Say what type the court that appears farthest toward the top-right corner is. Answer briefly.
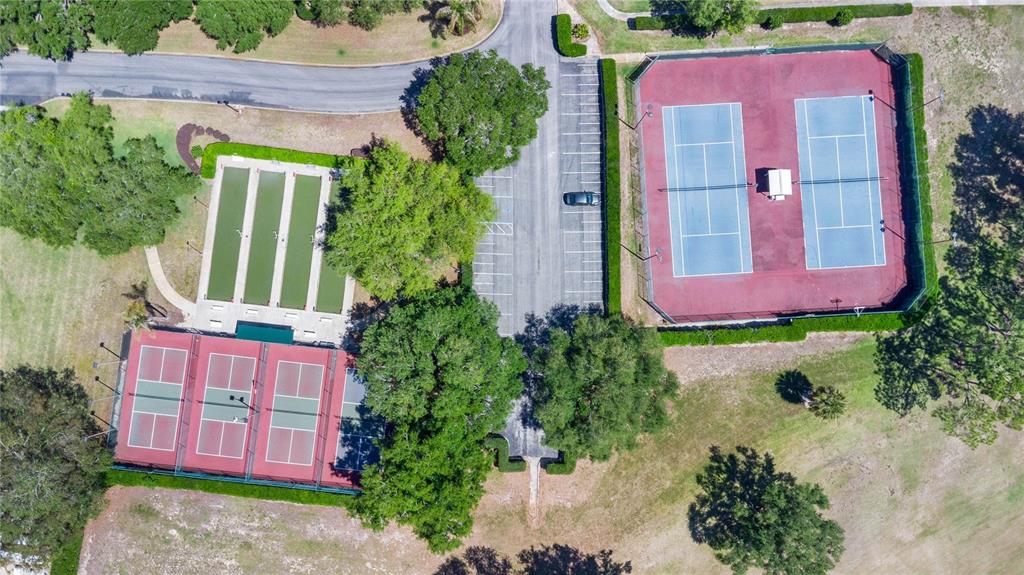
tennis court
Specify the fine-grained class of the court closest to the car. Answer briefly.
tennis court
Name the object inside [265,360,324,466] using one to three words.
sports court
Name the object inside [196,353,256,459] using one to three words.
sports court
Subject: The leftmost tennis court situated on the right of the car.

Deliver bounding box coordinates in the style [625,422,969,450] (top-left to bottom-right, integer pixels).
[662,102,752,277]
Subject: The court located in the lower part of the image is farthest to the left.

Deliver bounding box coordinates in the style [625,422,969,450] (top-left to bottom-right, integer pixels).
[127,345,187,451]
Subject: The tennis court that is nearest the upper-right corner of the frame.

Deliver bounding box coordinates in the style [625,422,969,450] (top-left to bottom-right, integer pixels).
[794,95,886,269]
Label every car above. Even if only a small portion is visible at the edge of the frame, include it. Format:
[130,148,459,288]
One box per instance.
[564,190,600,206]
